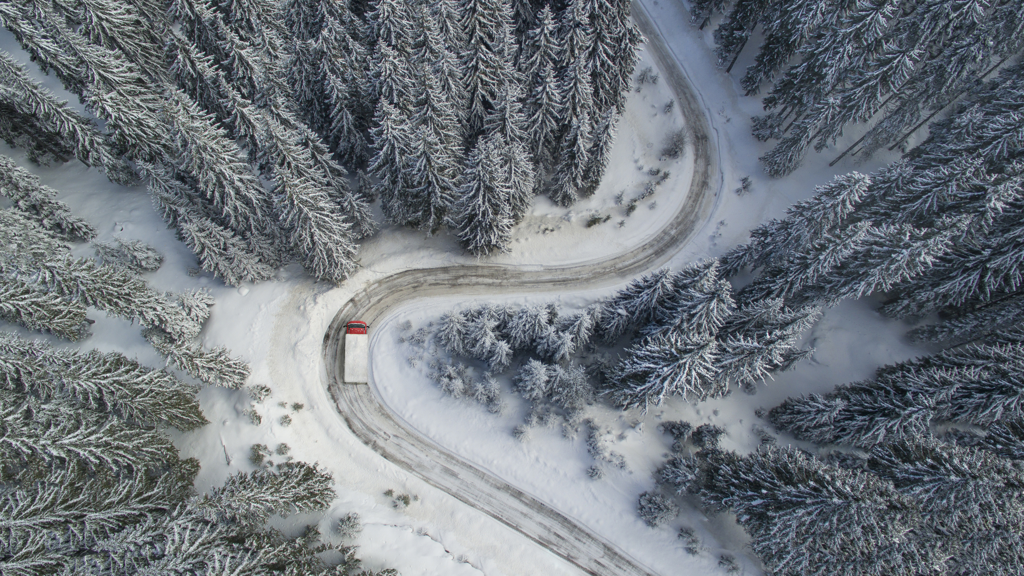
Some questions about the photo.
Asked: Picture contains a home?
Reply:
No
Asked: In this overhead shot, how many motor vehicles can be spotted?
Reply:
1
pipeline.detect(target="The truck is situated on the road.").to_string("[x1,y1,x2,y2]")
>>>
[346,321,373,388]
